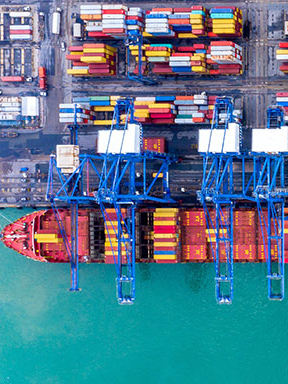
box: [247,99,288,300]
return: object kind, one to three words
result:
container crane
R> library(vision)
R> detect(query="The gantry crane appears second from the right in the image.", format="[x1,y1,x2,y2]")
[193,88,267,303]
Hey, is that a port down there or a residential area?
port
